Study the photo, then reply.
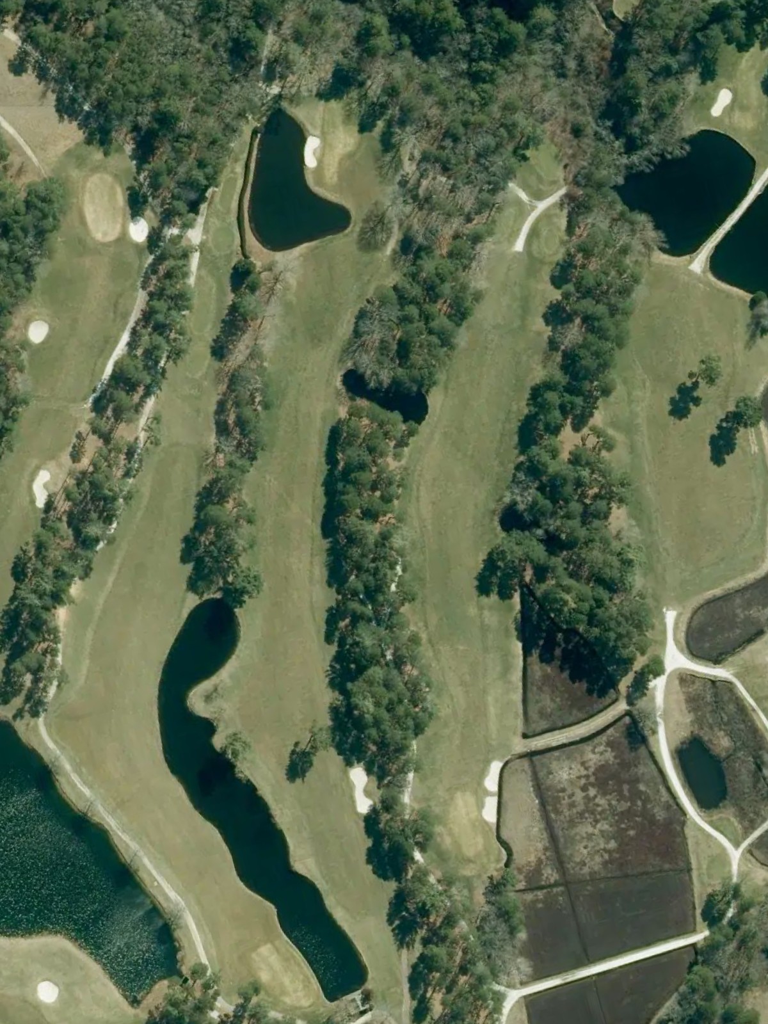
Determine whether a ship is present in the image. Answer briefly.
No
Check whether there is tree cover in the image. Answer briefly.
Yes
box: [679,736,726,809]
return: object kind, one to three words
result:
pond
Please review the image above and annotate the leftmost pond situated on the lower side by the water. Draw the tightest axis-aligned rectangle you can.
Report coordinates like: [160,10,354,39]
[158,598,369,1002]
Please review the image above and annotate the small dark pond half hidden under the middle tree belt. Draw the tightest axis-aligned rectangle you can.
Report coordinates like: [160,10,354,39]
[343,364,429,424]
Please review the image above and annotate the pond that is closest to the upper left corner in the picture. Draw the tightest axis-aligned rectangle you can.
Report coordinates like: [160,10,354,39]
[247,108,351,250]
